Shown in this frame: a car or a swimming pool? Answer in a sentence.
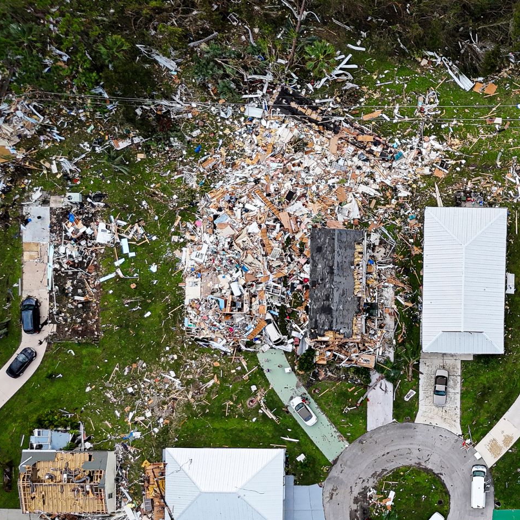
Looking from above, you can make out a car.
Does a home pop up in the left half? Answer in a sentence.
Yes, you'll find a home in the left half.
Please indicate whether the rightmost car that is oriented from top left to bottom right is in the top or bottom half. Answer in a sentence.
The bottom half of the photo is where the rightmost car that is oriented from top left to bottom right is.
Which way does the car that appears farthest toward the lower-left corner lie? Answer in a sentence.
The car that appears farthest toward the lower-left corner has been laid out on a diagonal relative to the frame.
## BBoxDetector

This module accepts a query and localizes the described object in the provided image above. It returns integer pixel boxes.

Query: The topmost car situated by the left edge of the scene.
[18,297,39,334]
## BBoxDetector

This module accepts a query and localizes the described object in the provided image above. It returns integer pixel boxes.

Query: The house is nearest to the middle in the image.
[310,229,366,357]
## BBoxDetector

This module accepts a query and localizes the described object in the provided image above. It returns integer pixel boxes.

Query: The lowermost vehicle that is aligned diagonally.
[288,395,316,429]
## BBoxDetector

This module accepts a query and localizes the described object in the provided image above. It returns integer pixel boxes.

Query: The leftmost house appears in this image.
[18,450,117,516]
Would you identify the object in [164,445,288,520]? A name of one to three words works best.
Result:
house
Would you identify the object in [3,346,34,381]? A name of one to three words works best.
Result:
car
